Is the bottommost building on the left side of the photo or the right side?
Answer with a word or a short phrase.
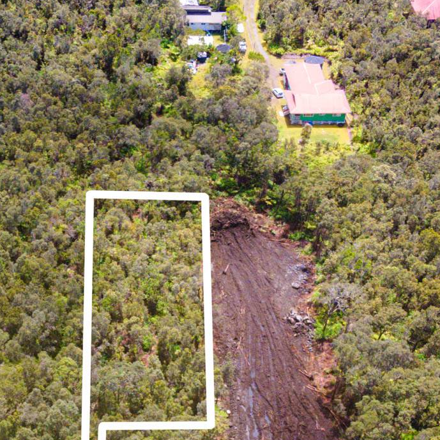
right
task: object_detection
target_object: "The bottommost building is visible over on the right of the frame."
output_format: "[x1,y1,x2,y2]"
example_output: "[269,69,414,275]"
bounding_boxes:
[282,58,352,128]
